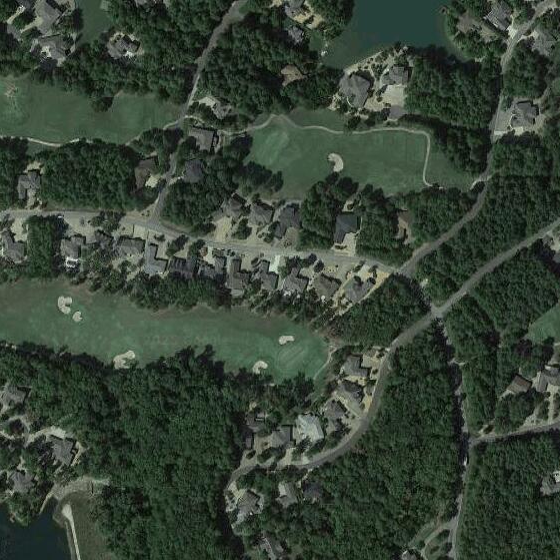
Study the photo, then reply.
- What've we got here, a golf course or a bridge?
golf course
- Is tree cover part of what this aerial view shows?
Yes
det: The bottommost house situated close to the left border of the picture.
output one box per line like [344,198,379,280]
[8,471,35,492]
